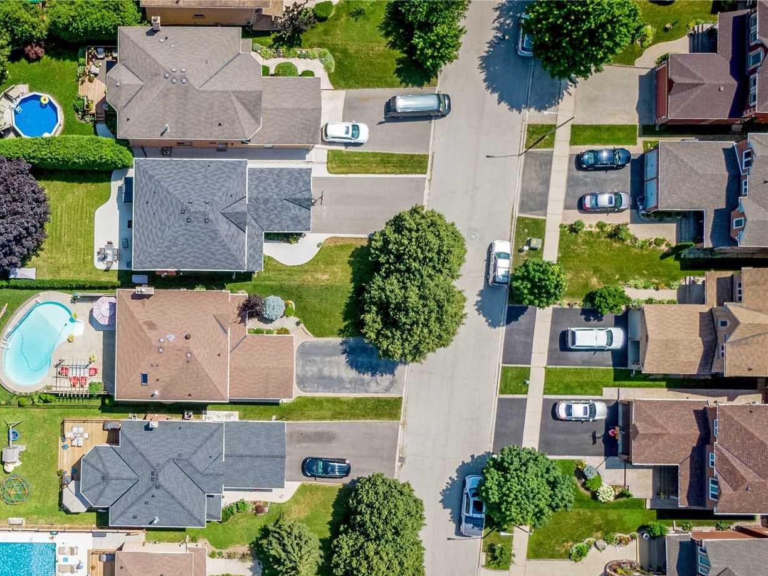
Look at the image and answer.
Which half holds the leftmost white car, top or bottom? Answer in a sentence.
It is in the top half that the leftmost white car appears.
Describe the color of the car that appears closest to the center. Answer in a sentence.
From above, the car that appears closest to the center appears white.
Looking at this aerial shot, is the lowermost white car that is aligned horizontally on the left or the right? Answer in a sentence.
You can find the lowermost white car that is aligned horizontally on the right side of the picture.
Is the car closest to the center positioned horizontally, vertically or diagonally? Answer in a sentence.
The car closest to the center is oriented vertically.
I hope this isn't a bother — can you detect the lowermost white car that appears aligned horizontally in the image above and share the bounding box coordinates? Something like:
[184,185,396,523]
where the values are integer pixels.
[553,399,605,424]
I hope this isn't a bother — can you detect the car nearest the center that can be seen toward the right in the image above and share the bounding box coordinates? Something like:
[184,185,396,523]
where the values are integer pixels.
[485,240,513,289]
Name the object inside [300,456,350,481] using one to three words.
car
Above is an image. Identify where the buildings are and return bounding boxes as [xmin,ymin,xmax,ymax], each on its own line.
[646,133,768,248]
[80,413,287,528]
[115,286,296,401]
[620,399,768,515]
[133,158,327,272]
[631,268,768,377]
[115,543,207,576]
[610,521,768,576]
[655,0,768,122]
[106,15,323,148]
